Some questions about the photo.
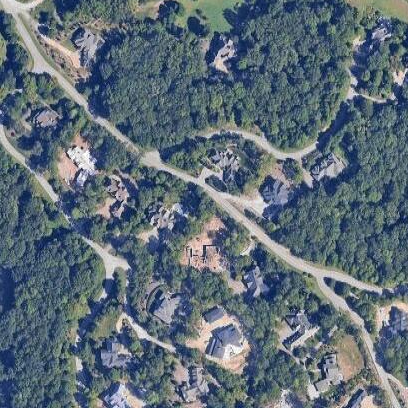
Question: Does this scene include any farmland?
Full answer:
No, there is no farmland in the image.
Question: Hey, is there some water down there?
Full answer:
No, the scene doesn't show any water.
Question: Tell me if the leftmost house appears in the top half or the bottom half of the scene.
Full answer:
The leftmost house sits in the top half of the picture.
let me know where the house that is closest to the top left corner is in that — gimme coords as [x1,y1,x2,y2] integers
[74,28,104,68]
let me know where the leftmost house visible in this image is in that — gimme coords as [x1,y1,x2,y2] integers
[33,109,59,132]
